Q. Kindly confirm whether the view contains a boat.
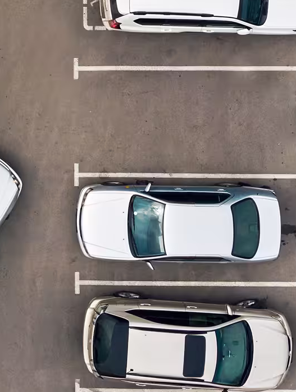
No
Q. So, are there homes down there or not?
No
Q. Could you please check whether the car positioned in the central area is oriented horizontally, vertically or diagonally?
horizontally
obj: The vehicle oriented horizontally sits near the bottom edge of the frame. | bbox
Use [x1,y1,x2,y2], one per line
[84,291,292,392]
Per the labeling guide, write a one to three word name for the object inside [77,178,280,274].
car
